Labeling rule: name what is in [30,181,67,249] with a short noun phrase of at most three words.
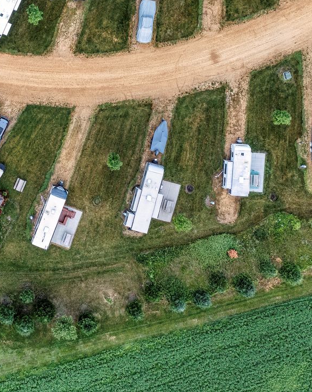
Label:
vehicle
